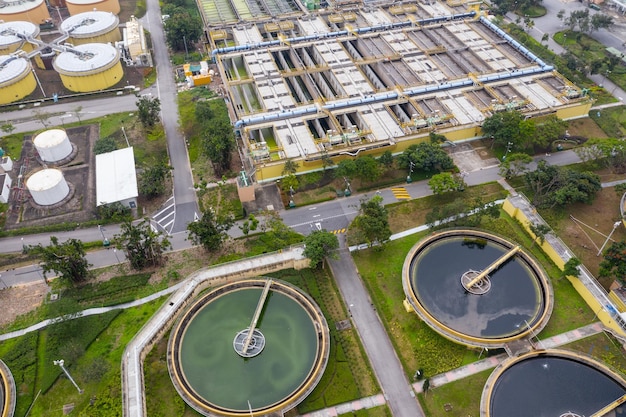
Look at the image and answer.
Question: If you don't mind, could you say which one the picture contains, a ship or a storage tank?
storage tank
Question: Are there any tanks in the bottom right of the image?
Yes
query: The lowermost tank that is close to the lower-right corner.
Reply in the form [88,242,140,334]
[474,341,626,417]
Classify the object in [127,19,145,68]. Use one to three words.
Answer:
building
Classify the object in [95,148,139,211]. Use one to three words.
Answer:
shed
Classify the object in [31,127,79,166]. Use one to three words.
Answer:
storage tank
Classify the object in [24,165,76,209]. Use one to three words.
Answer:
storage tank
